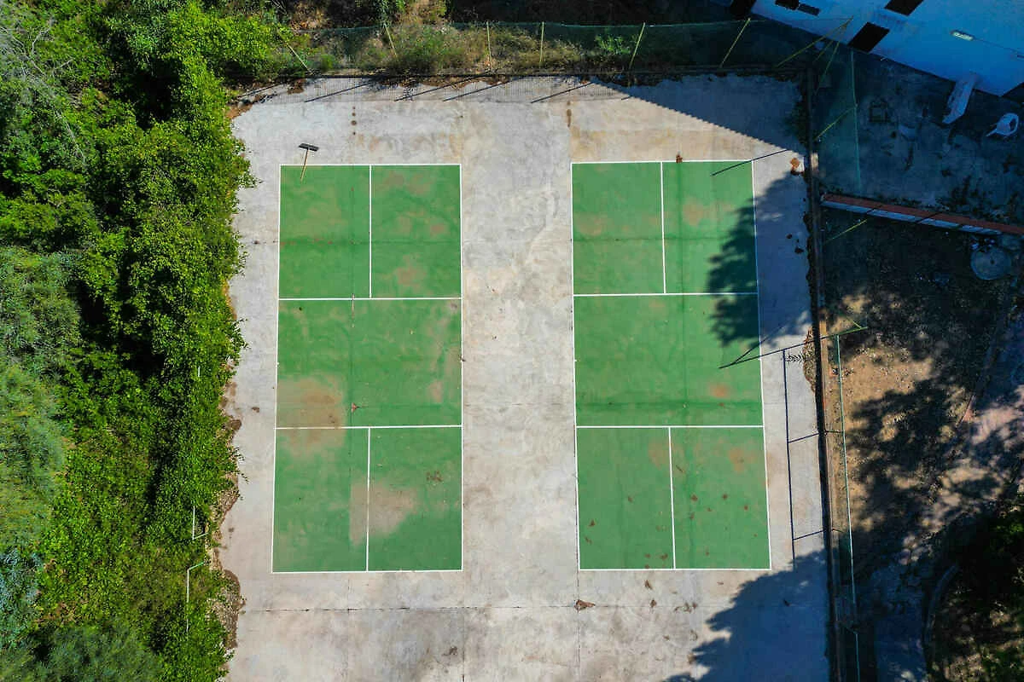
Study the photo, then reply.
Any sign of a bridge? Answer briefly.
No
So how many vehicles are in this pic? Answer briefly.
0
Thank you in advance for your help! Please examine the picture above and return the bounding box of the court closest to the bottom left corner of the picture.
[272,162,464,574]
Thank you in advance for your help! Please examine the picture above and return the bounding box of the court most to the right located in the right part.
[571,159,771,571]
